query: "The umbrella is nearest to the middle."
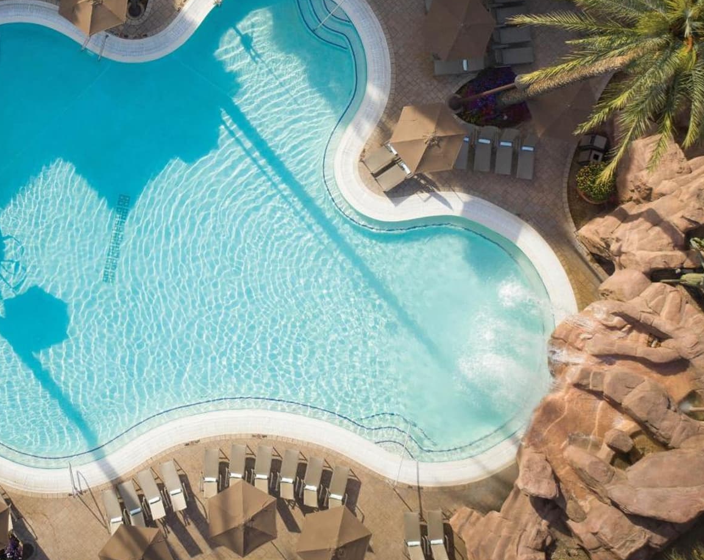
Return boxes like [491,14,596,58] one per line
[385,102,466,175]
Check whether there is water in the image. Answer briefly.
Yes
